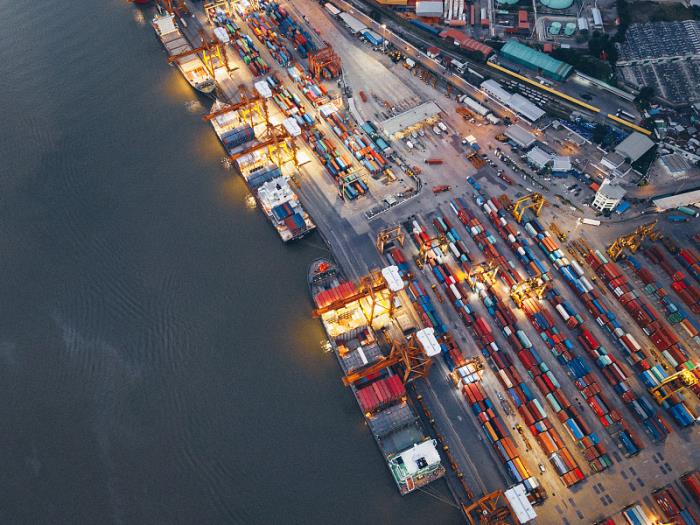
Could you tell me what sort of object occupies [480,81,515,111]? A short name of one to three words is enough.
building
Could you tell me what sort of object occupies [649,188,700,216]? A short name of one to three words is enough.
building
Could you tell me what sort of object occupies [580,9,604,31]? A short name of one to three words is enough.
shed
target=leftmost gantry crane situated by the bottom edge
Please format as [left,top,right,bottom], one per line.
[471,479,543,525]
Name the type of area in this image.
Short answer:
port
